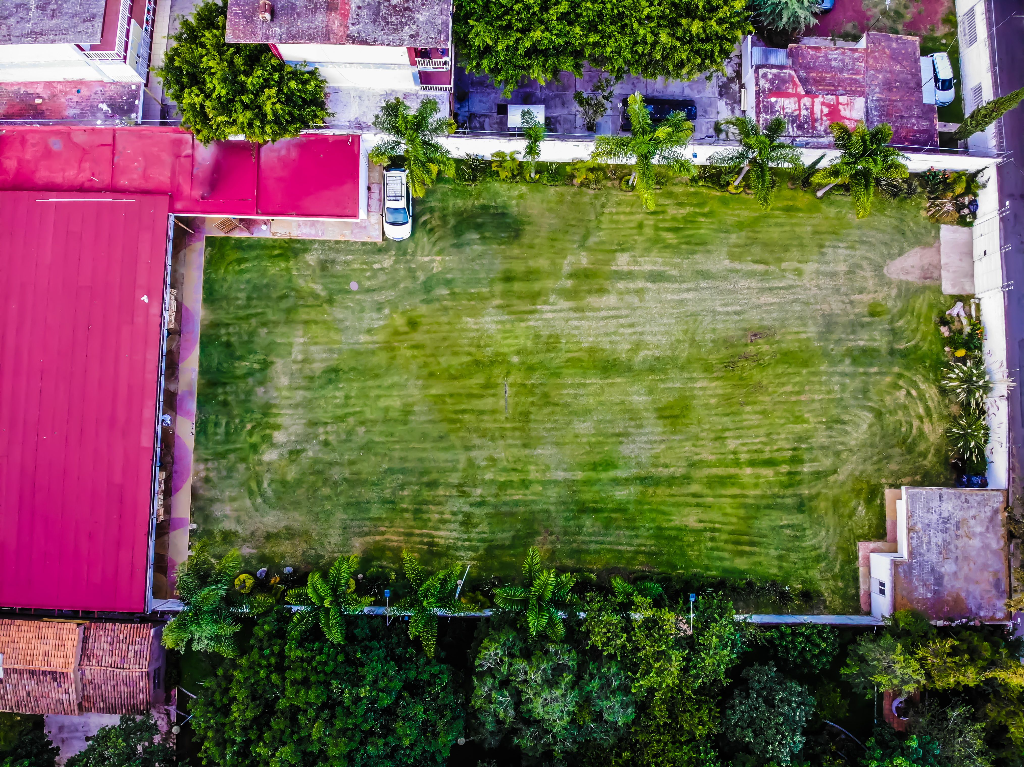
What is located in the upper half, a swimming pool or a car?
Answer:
car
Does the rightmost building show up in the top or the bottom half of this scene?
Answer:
bottom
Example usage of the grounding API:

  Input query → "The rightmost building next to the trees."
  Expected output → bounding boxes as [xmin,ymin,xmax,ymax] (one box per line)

[871,485,1015,624]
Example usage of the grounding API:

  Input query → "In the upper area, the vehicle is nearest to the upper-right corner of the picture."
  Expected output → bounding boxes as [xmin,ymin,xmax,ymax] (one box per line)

[932,47,969,105]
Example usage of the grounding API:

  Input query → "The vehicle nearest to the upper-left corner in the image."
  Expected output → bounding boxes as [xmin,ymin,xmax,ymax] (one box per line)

[377,164,413,238]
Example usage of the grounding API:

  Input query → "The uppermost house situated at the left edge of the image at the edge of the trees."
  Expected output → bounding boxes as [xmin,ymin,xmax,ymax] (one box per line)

[0,0,160,125]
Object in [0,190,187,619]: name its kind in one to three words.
building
